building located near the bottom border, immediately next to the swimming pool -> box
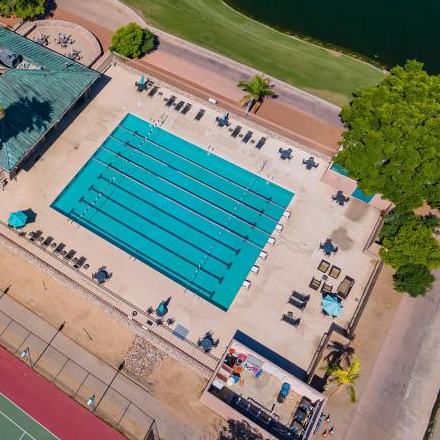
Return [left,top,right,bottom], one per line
[201,341,327,440]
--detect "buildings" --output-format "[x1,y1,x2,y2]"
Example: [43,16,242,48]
[201,341,327,440]
[0,26,100,182]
